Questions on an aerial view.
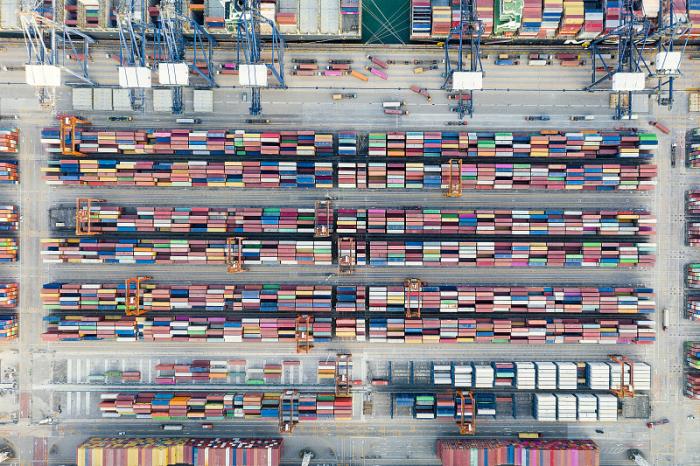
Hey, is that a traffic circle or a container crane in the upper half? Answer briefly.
container crane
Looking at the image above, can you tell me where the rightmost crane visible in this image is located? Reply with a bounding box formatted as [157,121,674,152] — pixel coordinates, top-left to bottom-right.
[624,0,698,118]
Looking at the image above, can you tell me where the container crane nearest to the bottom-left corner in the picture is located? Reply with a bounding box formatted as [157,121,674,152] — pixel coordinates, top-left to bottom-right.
[125,275,154,316]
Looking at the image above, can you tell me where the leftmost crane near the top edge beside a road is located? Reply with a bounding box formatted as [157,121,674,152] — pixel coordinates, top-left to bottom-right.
[18,0,101,112]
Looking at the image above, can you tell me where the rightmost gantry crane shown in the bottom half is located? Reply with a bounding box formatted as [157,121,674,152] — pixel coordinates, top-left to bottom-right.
[600,351,632,396]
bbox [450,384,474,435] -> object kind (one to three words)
container crane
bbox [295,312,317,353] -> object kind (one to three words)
container crane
